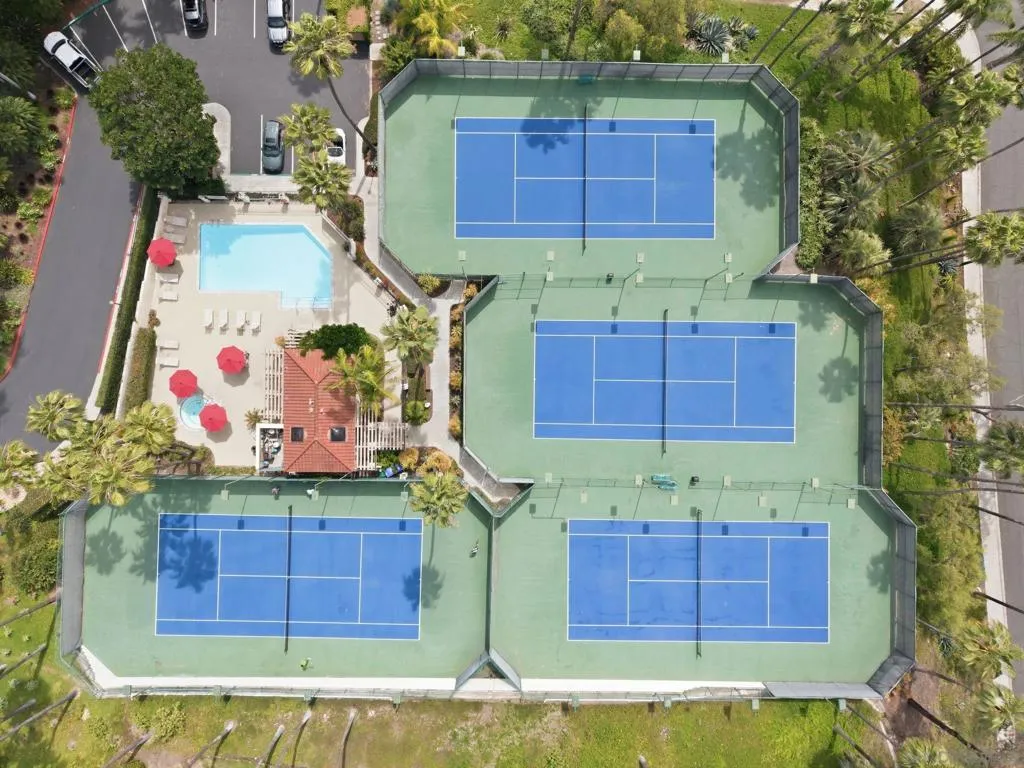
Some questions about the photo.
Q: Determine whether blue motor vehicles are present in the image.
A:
No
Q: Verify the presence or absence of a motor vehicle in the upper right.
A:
No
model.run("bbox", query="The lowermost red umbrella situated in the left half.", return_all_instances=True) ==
[199,403,228,432]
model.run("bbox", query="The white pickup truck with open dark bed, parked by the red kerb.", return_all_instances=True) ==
[46,35,99,93]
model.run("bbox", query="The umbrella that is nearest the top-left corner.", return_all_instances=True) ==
[148,238,179,267]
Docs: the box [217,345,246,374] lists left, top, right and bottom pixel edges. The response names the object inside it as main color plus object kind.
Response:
red umbrella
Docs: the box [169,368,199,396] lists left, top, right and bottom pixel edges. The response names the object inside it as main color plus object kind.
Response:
red umbrella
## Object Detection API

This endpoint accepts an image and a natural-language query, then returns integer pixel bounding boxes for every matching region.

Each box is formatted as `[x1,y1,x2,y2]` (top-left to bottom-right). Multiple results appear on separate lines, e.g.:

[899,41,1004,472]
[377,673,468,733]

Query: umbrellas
[217,345,246,374]
[169,368,199,396]
[148,238,179,267]
[199,403,228,432]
